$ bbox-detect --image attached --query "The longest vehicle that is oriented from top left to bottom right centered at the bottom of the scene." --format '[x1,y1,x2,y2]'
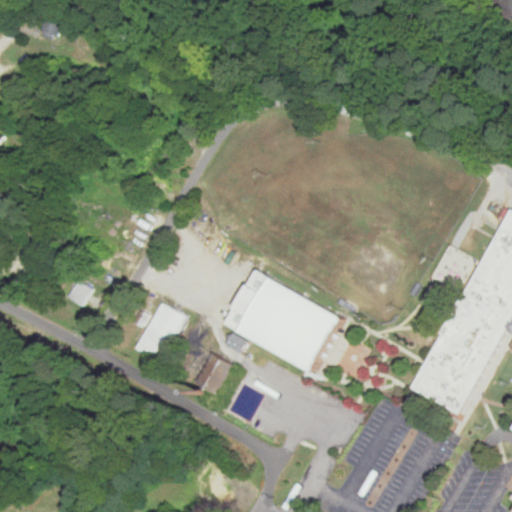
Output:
[252,378,280,400]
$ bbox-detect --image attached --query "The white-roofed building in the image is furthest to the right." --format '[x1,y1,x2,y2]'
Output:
[408,211,512,414]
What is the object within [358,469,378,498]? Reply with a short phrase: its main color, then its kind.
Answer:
white bus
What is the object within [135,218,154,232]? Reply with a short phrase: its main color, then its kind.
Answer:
white vehicle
